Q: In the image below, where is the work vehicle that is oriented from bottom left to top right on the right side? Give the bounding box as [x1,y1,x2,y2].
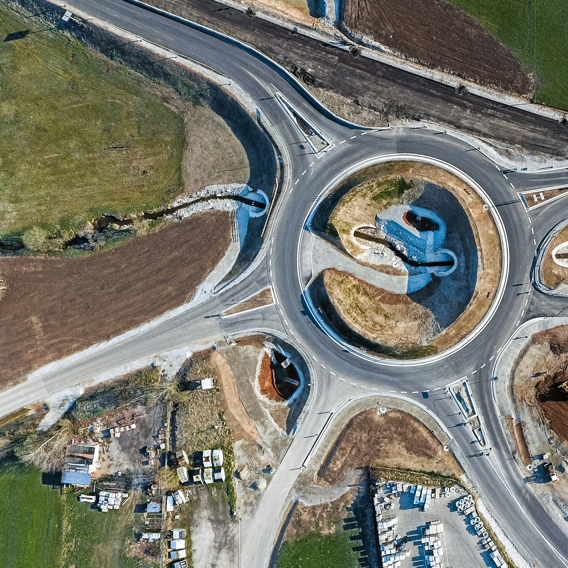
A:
[397,536,412,552]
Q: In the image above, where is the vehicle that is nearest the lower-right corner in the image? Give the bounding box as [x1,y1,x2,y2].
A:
[544,461,561,486]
